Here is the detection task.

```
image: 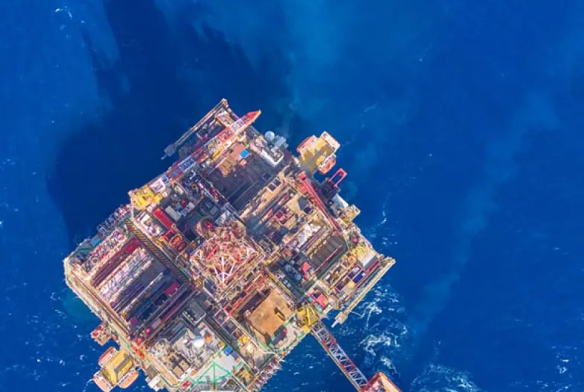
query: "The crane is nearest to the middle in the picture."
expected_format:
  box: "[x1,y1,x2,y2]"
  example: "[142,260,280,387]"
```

[294,170,343,236]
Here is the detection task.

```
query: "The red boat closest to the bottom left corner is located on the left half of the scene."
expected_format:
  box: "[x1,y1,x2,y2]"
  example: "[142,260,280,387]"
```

[97,346,114,362]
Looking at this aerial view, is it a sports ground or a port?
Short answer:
port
